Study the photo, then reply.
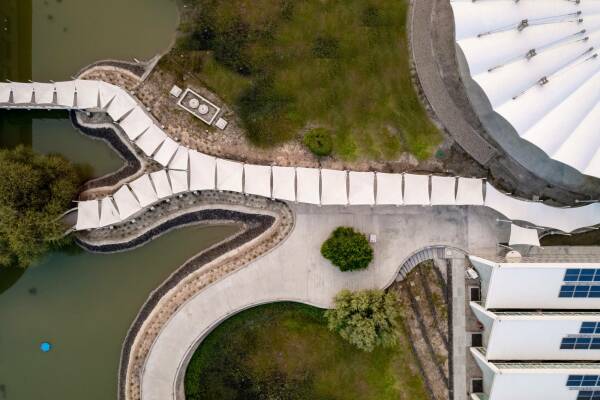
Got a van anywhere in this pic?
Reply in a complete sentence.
No, I can see no van in this picture.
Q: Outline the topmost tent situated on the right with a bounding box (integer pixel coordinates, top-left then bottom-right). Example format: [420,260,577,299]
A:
[451,0,600,176]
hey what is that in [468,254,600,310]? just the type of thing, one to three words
building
